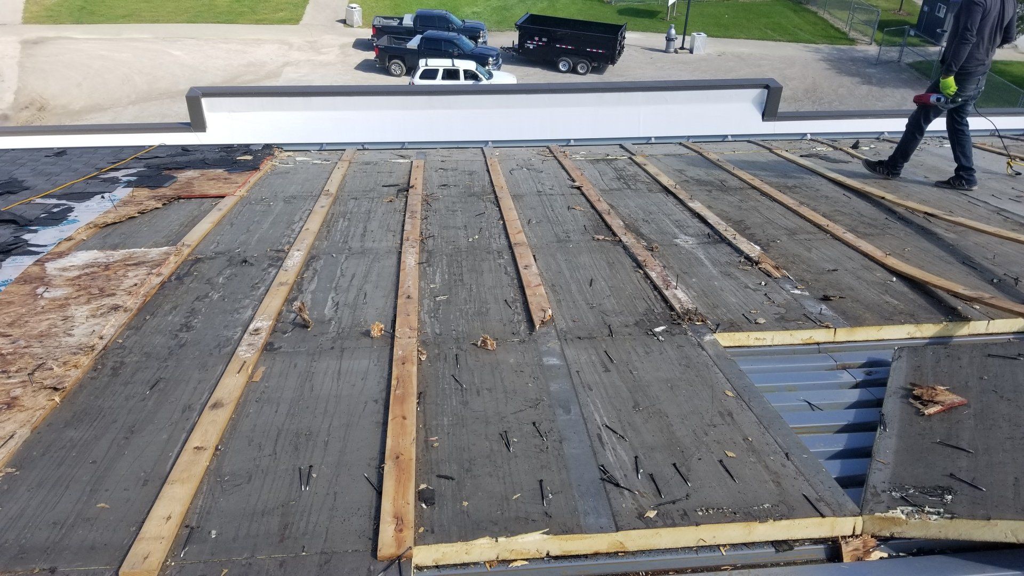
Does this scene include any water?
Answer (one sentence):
No, there's no water in this view.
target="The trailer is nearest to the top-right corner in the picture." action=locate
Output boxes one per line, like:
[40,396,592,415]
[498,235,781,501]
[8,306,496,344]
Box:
[505,13,629,75]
